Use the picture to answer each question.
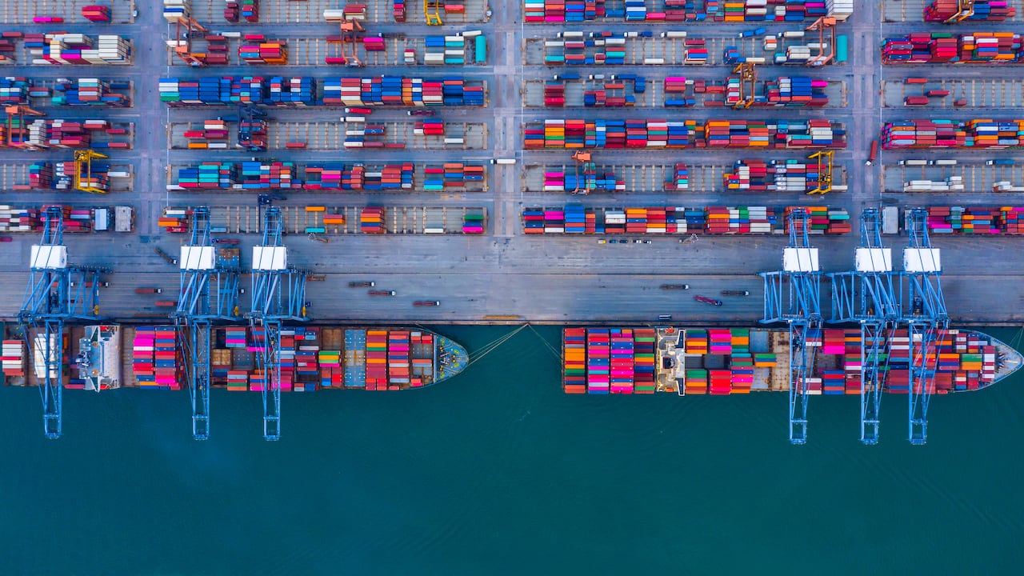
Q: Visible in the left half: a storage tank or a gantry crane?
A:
gantry crane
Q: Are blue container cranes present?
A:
Yes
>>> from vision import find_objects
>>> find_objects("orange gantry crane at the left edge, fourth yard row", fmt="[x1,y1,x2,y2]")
[6,106,44,151]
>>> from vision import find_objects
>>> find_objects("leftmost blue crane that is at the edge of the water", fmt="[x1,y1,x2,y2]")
[17,204,108,439]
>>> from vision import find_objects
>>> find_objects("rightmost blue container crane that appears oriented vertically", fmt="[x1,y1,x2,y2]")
[882,207,950,445]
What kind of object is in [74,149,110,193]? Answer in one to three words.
container crane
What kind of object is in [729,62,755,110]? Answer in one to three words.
container crane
